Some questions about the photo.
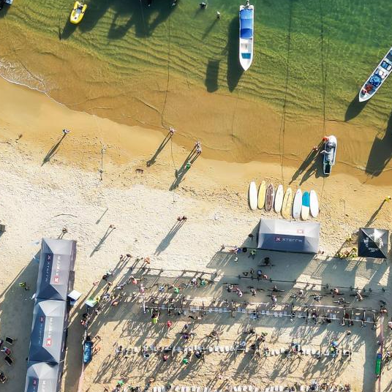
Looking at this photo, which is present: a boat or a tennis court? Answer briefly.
boat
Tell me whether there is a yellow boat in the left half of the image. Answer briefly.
Yes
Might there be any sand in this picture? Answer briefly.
Yes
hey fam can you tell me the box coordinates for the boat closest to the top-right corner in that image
[360,47,392,102]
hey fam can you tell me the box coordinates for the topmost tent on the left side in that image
[35,237,80,301]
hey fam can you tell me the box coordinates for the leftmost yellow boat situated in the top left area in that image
[70,0,87,25]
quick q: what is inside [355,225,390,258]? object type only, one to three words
tent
